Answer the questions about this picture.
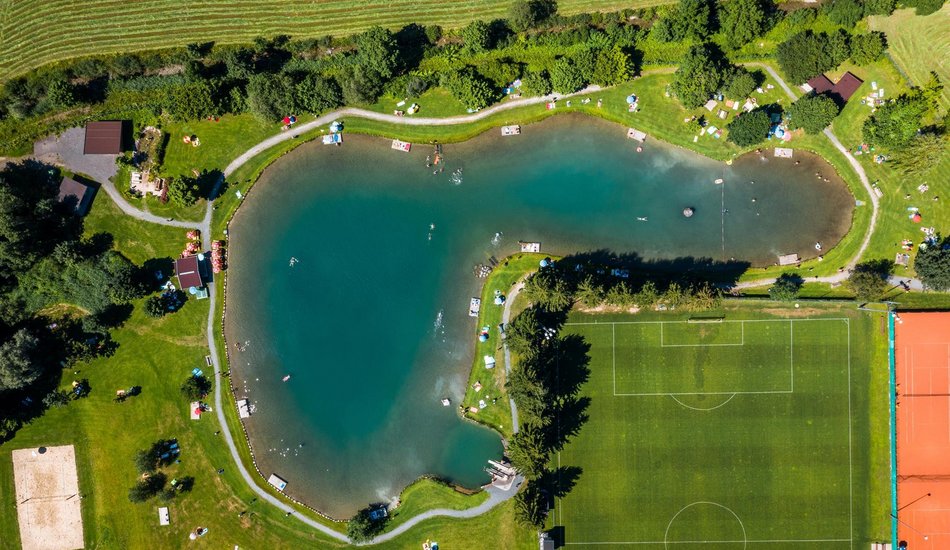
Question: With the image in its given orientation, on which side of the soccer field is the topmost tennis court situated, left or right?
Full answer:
You can see the topmost tennis court positioned to the right of the soccer field.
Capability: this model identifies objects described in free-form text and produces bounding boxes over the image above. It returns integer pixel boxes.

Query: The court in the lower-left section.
[12,445,85,550]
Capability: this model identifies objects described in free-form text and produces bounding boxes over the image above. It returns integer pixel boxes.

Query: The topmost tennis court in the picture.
[893,311,950,477]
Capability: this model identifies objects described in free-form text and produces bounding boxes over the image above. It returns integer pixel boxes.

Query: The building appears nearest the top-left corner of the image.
[84,120,126,155]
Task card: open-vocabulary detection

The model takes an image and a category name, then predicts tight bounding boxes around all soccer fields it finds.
[553,308,873,550]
